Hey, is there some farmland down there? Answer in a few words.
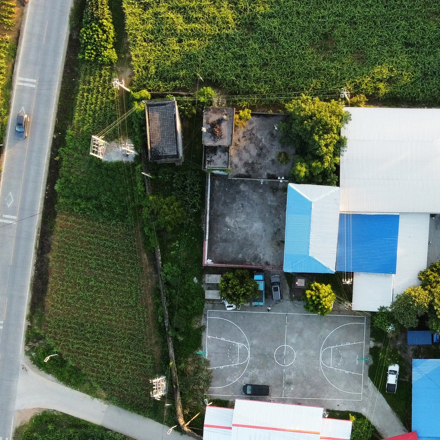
Yes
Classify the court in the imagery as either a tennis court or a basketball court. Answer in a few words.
basketball court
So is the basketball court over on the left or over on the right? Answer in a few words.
right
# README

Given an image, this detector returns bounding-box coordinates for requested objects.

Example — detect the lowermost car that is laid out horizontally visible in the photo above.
[242,383,271,396]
